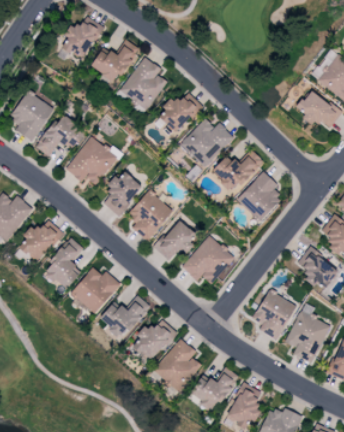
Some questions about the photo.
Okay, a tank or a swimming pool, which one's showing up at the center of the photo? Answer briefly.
swimming pool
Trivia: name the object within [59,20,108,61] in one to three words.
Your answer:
house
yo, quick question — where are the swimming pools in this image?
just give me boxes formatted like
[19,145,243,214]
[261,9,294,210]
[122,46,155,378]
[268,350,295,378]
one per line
[332,272,344,294]
[166,181,186,200]
[200,176,222,195]
[146,127,166,145]
[272,270,288,288]
[233,206,248,228]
